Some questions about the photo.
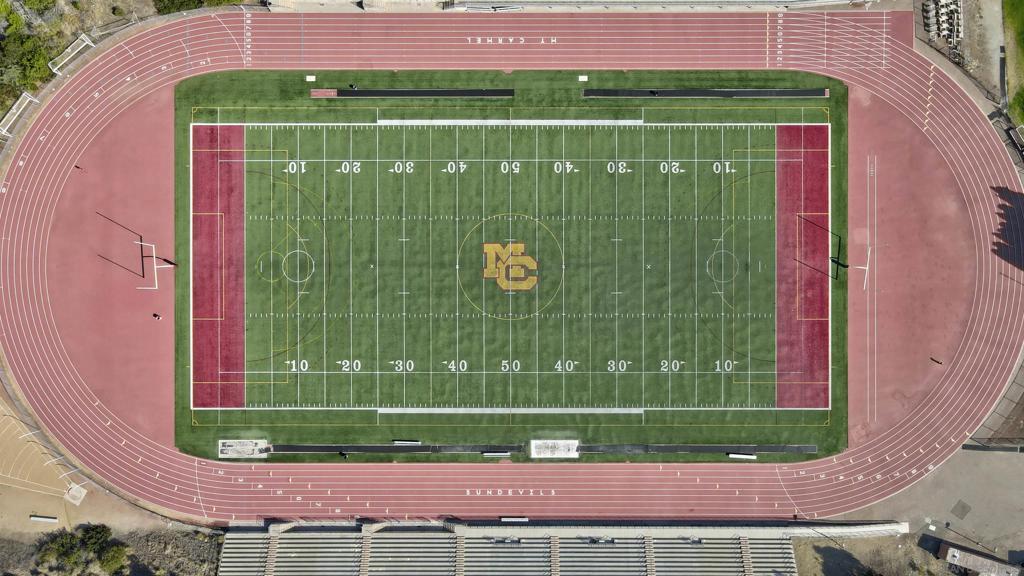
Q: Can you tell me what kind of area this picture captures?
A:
sports ground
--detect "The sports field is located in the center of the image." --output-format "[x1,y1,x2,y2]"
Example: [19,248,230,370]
[175,68,849,464]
